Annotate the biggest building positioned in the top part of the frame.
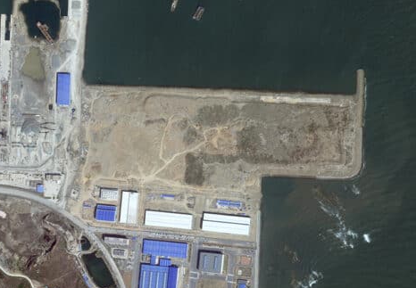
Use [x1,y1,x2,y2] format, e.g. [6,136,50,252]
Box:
[57,73,71,106]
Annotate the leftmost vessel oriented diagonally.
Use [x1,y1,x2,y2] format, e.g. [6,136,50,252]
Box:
[37,22,54,42]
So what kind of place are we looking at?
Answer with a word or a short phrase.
port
